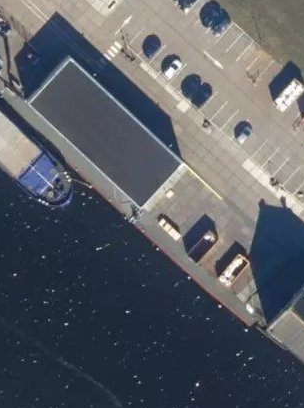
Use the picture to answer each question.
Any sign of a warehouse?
Yes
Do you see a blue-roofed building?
No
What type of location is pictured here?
port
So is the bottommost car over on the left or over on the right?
right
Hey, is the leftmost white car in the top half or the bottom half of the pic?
top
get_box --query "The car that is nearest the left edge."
[141,40,160,60]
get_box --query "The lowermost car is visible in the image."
[234,123,255,145]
